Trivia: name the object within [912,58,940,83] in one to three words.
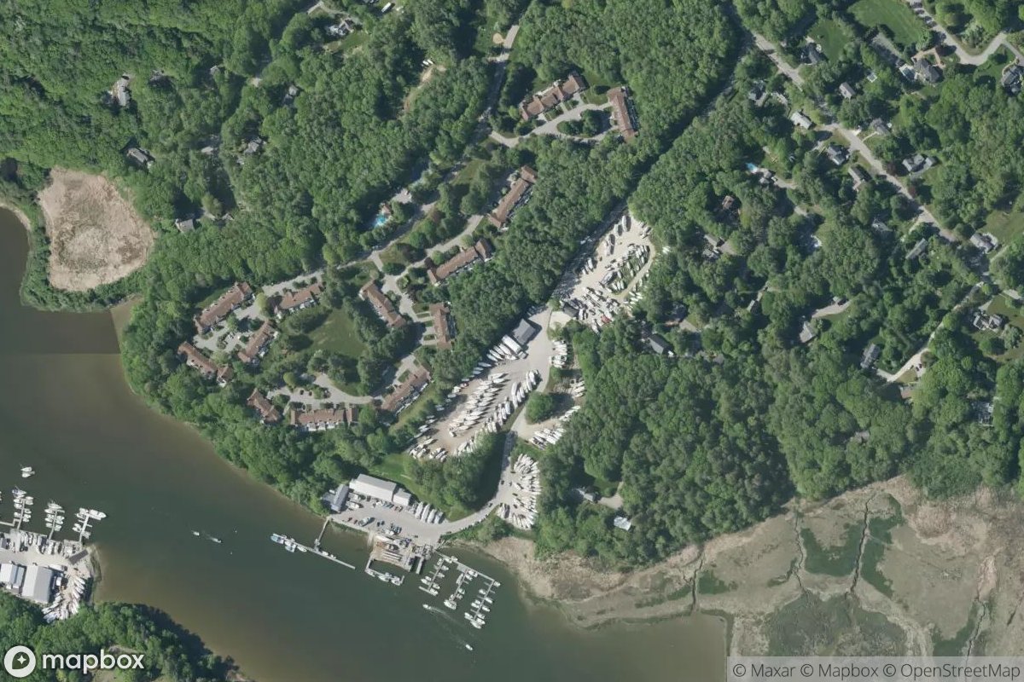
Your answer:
house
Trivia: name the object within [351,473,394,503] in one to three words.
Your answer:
shed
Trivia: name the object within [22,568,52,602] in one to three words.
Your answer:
shed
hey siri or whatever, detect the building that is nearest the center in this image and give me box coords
[511,319,537,344]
